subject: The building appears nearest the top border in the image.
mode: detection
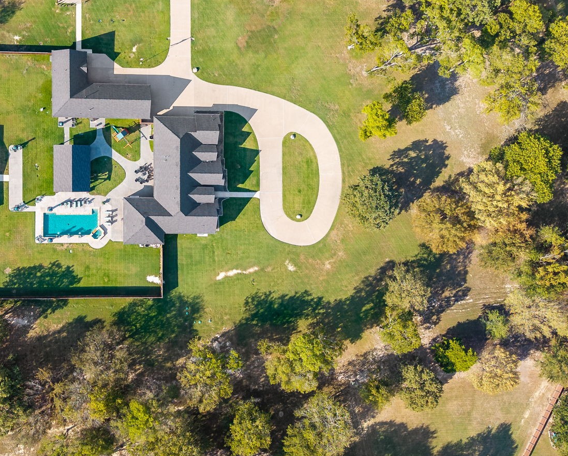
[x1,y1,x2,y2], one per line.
[52,49,151,118]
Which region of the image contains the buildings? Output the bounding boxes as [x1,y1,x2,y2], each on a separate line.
[123,115,223,244]
[52,49,151,118]
[53,145,90,192]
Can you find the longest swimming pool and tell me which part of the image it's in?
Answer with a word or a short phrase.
left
